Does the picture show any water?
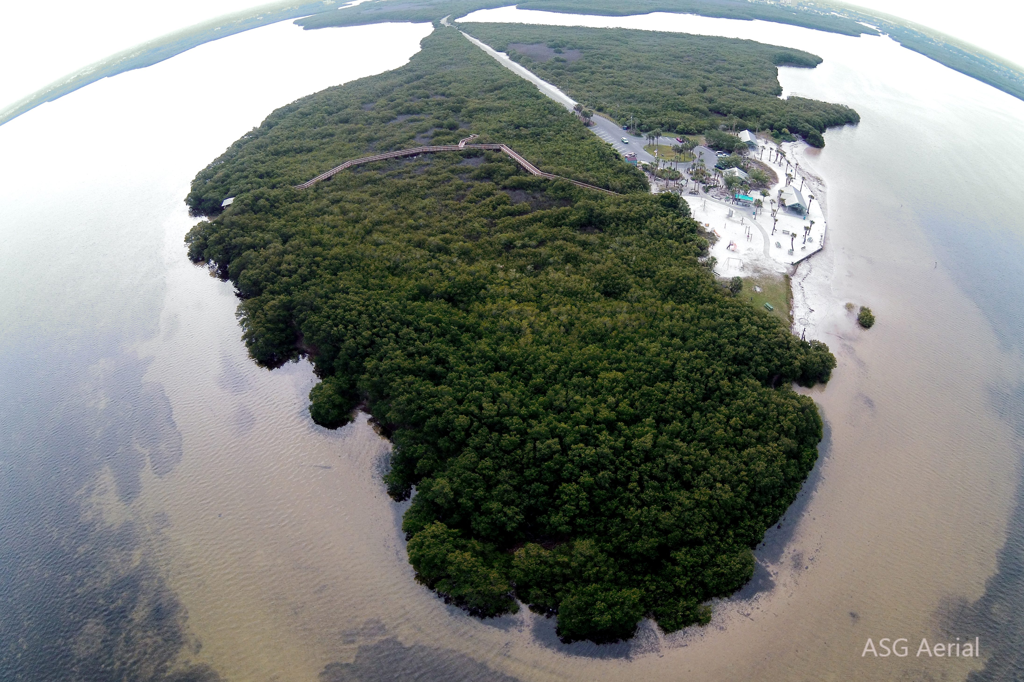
Yes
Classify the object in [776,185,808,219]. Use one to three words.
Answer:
building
